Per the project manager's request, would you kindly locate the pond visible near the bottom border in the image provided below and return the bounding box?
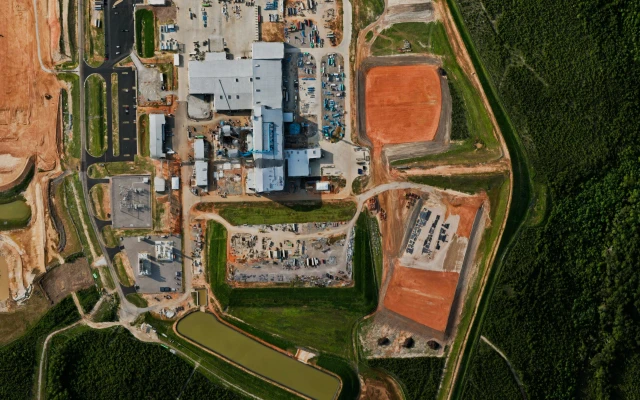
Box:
[177,310,339,400]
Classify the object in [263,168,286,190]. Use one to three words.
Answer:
building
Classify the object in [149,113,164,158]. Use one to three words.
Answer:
building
